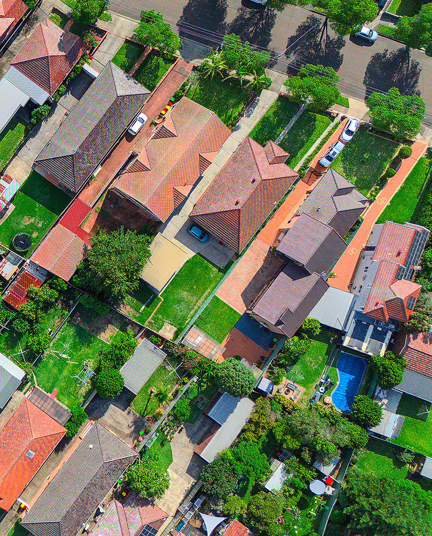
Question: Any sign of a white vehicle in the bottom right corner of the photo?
No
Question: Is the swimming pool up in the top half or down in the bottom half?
bottom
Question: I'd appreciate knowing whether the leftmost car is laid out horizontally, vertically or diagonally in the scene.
diagonally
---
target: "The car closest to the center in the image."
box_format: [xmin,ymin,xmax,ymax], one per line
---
[184,221,210,243]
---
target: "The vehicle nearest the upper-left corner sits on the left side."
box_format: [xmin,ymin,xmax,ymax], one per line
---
[125,111,148,136]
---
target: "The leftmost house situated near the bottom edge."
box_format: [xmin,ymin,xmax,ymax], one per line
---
[0,399,65,511]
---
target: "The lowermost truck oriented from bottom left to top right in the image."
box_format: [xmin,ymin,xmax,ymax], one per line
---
[316,140,346,171]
